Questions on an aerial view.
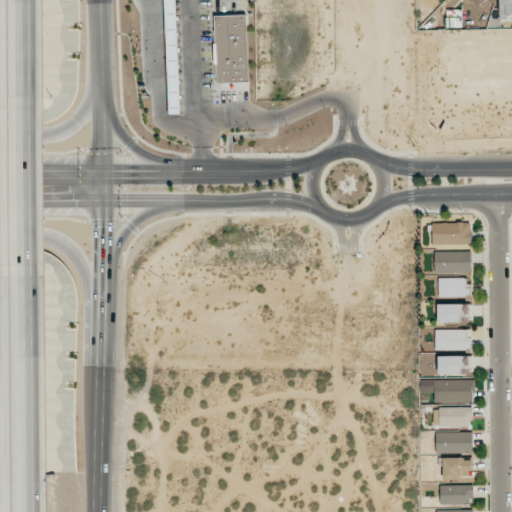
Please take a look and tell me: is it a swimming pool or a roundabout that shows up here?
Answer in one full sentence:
It is a roundabout that can be seen here.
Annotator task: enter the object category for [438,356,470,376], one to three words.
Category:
house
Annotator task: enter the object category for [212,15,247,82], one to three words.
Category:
house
